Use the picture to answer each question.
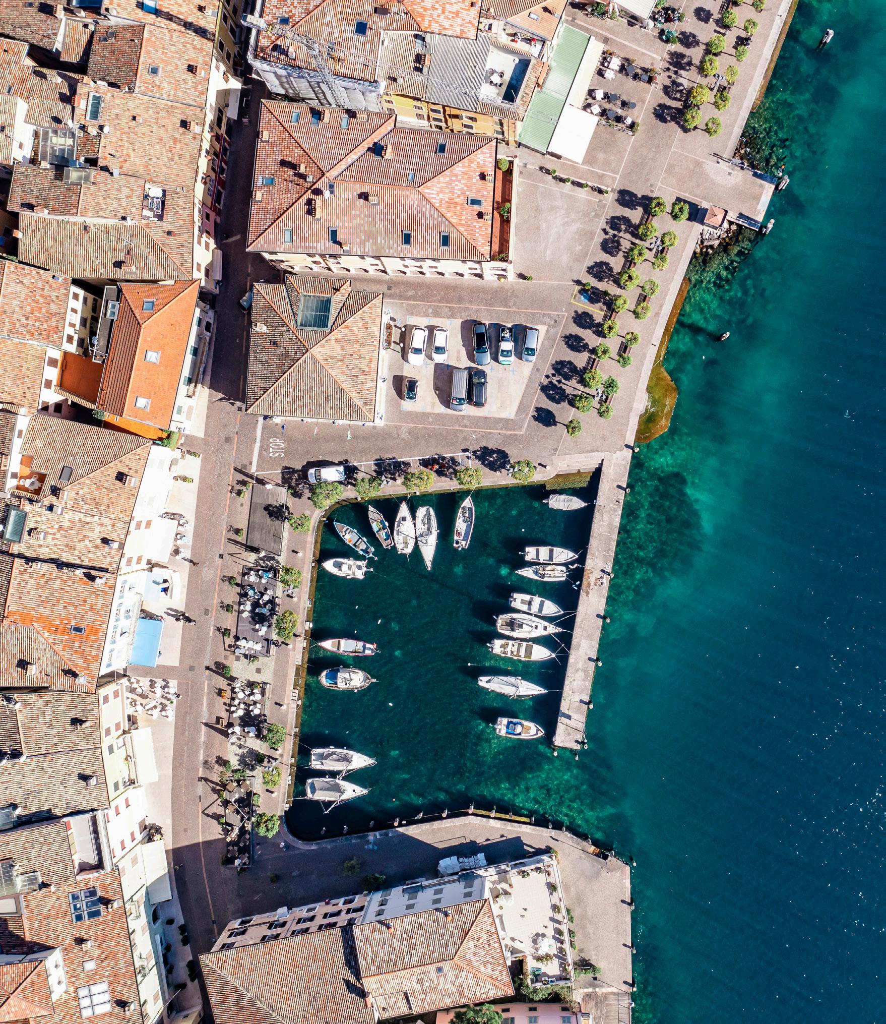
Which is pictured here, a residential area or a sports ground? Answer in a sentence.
This image shows a residential area.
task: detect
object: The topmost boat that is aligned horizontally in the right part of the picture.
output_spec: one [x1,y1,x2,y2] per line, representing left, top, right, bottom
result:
[543,494,588,510]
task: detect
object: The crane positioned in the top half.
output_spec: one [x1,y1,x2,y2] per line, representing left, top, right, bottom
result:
[236,7,545,121]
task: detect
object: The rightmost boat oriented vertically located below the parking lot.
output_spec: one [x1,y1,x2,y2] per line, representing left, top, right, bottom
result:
[451,491,474,553]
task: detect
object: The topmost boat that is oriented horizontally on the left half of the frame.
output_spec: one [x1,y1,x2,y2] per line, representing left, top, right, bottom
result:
[314,559,373,581]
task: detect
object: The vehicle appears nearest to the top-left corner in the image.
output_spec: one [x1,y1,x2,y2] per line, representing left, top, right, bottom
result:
[238,279,254,311]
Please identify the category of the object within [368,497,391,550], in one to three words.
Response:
boat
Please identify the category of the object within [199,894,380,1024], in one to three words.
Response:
house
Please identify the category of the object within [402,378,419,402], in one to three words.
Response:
car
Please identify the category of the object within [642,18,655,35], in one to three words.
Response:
umbrella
